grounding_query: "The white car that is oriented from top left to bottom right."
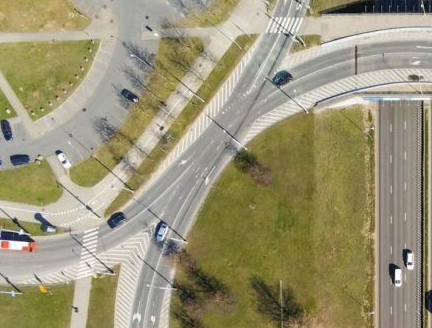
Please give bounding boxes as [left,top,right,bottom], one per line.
[56,152,72,169]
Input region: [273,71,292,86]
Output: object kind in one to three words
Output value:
car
